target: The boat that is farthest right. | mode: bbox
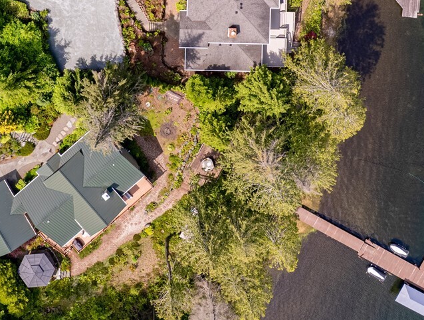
[391,245,411,259]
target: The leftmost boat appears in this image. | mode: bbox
[368,268,387,282]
